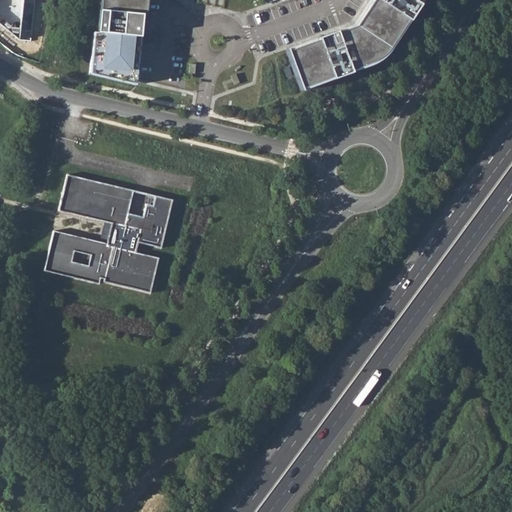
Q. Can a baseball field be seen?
No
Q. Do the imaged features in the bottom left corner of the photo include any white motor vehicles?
No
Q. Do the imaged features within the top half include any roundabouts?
Yes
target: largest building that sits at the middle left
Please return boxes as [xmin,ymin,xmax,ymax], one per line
[44,174,173,294]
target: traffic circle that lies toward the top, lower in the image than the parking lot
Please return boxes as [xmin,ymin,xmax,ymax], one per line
[322,112,410,234]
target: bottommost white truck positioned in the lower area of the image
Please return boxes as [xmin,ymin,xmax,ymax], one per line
[352,369,381,406]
